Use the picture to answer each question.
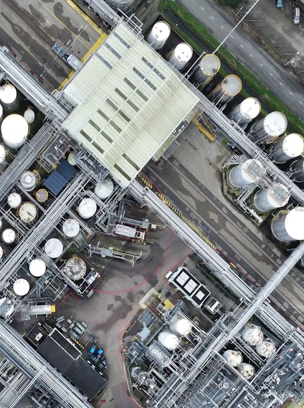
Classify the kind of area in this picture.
industrial area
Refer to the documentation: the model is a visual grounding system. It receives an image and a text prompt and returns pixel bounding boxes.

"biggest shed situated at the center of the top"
[47,21,200,192]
